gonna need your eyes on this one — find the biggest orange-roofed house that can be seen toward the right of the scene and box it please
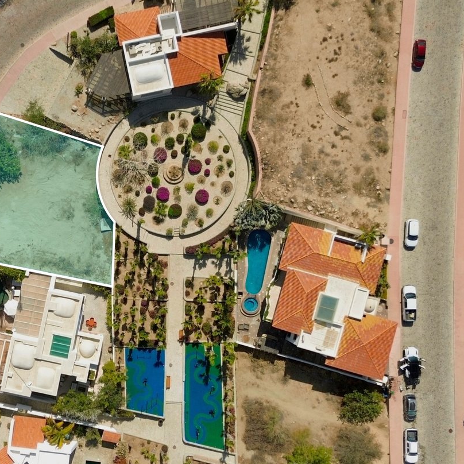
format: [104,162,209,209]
[268,222,398,382]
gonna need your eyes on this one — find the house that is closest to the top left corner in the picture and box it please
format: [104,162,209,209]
[114,5,237,102]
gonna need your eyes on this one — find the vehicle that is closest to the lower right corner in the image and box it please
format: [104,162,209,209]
[403,428,420,464]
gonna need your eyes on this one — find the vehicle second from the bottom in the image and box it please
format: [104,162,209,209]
[403,393,419,422]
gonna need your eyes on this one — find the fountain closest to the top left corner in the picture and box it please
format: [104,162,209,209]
[165,161,186,183]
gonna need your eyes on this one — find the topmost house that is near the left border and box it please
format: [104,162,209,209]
[0,272,103,397]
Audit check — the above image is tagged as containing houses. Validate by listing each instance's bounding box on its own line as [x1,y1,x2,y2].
[0,272,103,397]
[0,409,78,464]
[114,5,237,102]
[268,222,398,382]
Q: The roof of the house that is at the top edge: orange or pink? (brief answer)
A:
orange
